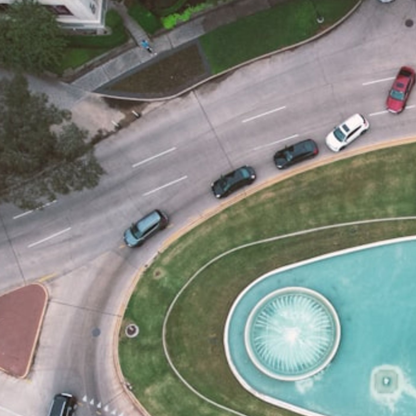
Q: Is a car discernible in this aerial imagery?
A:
Yes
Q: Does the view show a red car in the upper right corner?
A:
Yes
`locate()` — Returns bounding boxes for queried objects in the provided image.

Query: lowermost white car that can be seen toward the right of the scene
[325,113,369,153]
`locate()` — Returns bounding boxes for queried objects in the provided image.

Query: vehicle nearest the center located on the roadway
[211,164,256,199]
